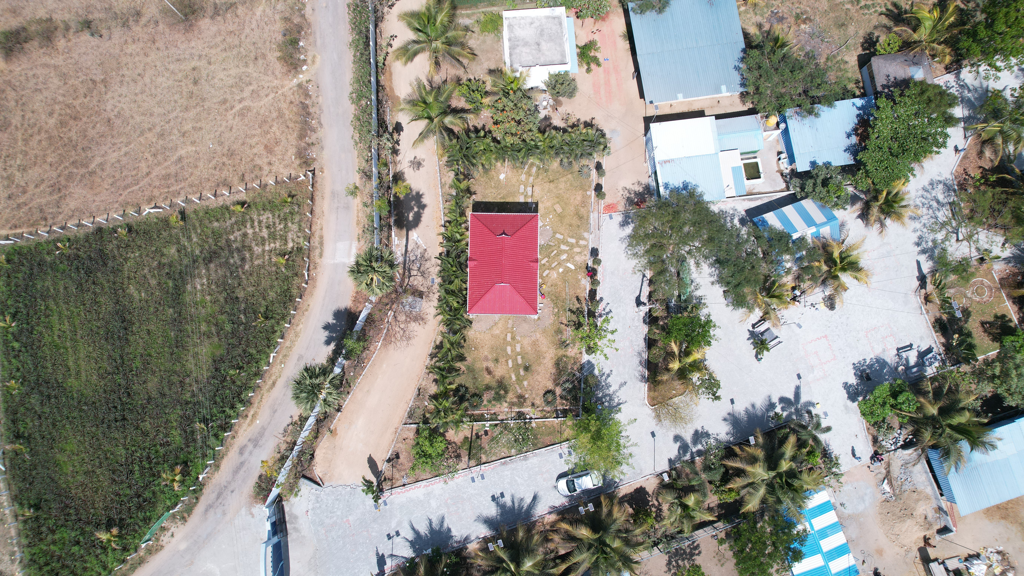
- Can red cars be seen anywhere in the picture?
No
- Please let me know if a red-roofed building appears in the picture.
Yes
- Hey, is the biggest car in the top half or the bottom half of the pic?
bottom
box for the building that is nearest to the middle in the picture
[467,212,545,315]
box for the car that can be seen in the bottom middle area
[554,469,606,501]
